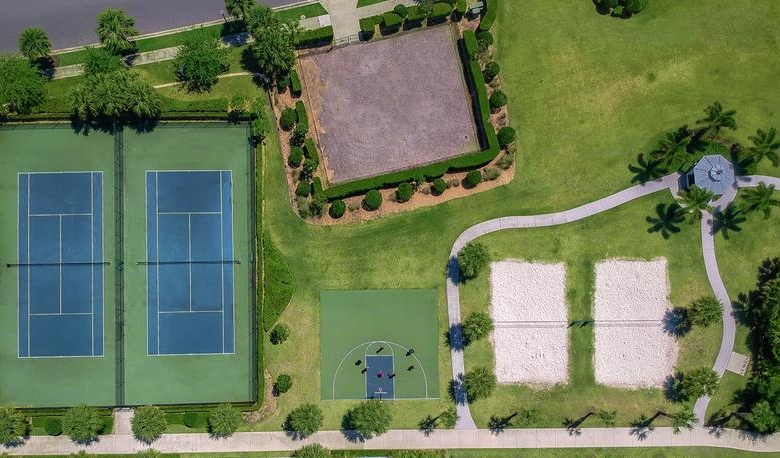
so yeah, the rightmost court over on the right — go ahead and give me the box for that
[592,257,676,389]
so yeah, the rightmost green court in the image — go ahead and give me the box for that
[320,289,439,400]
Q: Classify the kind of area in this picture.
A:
sports ground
